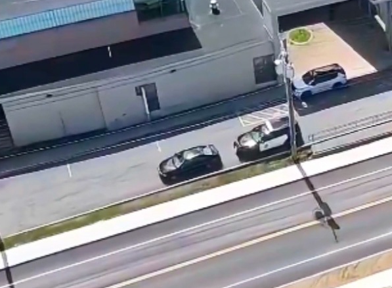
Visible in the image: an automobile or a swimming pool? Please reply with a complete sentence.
This aerial view contains an automobile.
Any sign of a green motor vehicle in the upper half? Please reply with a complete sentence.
No, there is no green motor vehicle in the upper half.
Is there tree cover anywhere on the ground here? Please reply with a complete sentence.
No, the picture contains no tree cover.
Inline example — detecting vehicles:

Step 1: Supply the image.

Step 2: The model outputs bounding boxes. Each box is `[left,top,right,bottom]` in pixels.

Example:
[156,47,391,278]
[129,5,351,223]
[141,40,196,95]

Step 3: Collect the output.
[231,108,301,151]
[156,138,223,178]
[291,59,346,95]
